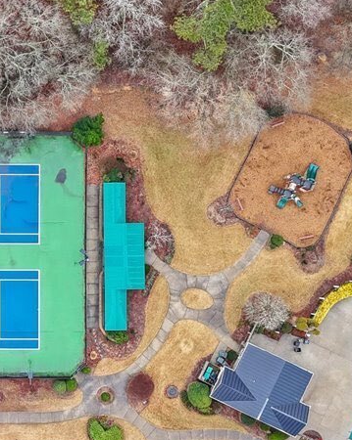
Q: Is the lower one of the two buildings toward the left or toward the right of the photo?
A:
right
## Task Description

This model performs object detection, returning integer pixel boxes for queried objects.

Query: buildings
[210,343,313,437]
[103,182,144,331]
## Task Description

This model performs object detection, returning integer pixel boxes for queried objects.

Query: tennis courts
[0,257,86,375]
[0,133,86,257]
